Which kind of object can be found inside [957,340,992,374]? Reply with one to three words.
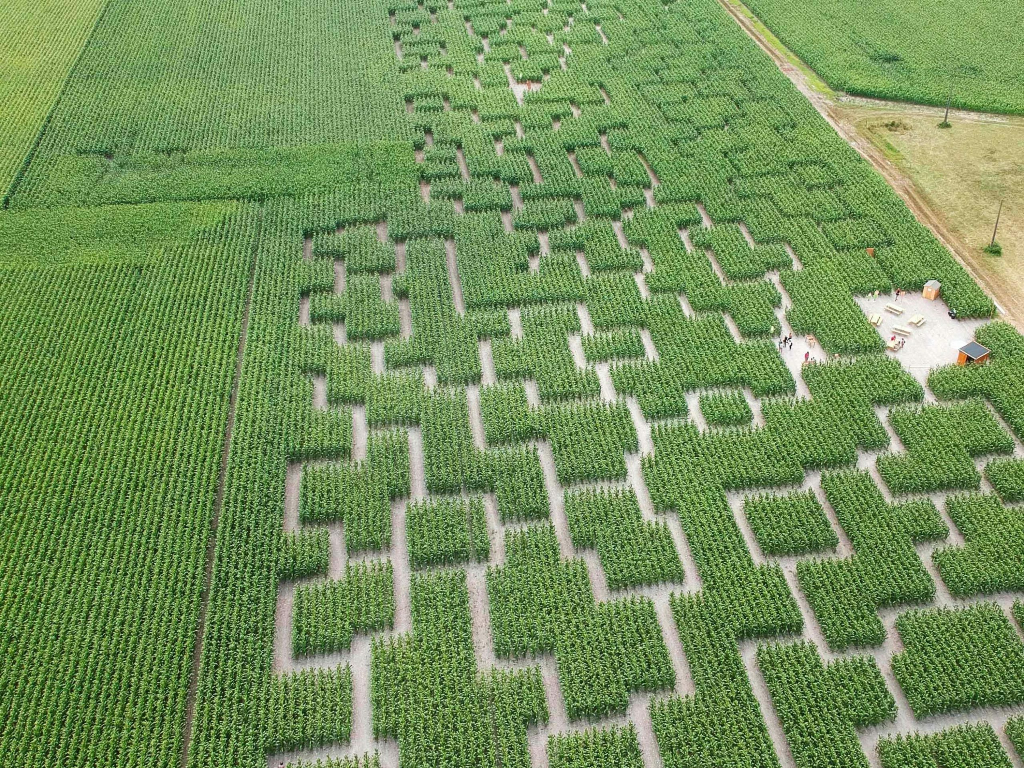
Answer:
shed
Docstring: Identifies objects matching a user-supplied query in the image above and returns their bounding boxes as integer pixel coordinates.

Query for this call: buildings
[923,278,942,301]
[957,340,992,374]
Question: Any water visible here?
No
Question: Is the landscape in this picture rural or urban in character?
rural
